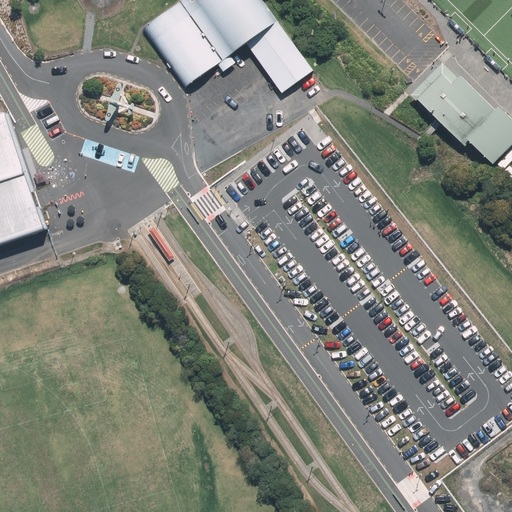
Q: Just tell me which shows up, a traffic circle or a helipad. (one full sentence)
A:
Of the two, only a traffic circle appears.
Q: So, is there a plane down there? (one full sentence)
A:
Yes, this view includes a plane.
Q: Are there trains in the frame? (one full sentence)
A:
Yes, I can see a train in this picture.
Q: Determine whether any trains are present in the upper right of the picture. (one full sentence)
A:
No, no train is visible in the upper right of the picture.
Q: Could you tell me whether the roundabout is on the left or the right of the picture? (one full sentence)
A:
The roundabout sits on the left side.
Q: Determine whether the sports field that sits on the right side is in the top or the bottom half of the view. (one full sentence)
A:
The top half of the photo is where the sports field that sits on the right side is.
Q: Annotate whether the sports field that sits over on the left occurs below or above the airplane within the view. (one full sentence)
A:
The position of the sports field that sits over on the left is below the airplane.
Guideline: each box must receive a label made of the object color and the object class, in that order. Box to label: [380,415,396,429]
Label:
white car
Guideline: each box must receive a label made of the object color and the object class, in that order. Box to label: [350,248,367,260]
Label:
white vehicle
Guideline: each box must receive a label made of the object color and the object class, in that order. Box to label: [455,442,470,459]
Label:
red car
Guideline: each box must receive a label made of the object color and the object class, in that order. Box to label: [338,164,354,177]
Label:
white vehicle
